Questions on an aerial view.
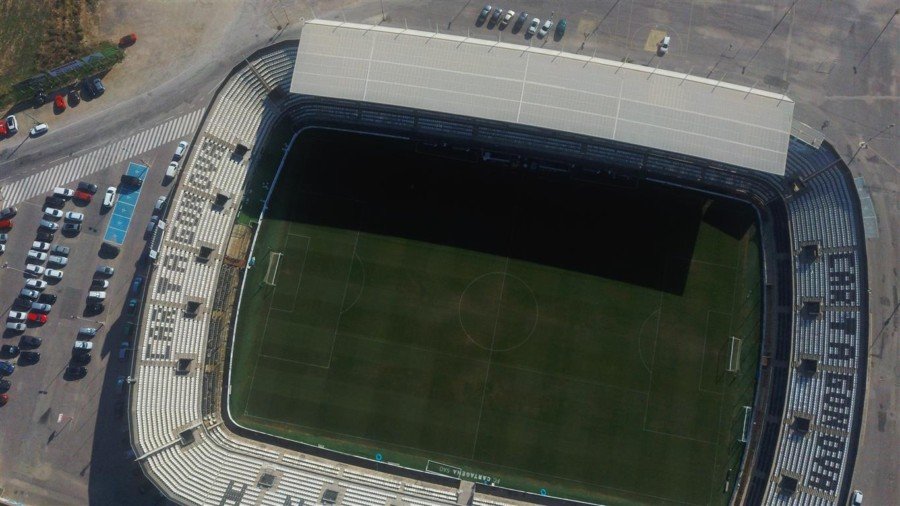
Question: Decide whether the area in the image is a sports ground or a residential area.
sports ground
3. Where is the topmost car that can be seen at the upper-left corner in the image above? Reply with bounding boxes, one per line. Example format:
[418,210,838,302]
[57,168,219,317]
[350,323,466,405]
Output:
[121,34,138,47]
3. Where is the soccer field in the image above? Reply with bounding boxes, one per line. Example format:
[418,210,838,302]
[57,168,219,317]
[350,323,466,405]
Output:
[230,127,763,506]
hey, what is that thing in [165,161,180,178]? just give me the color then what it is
white car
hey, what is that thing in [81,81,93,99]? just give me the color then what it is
black vehicle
